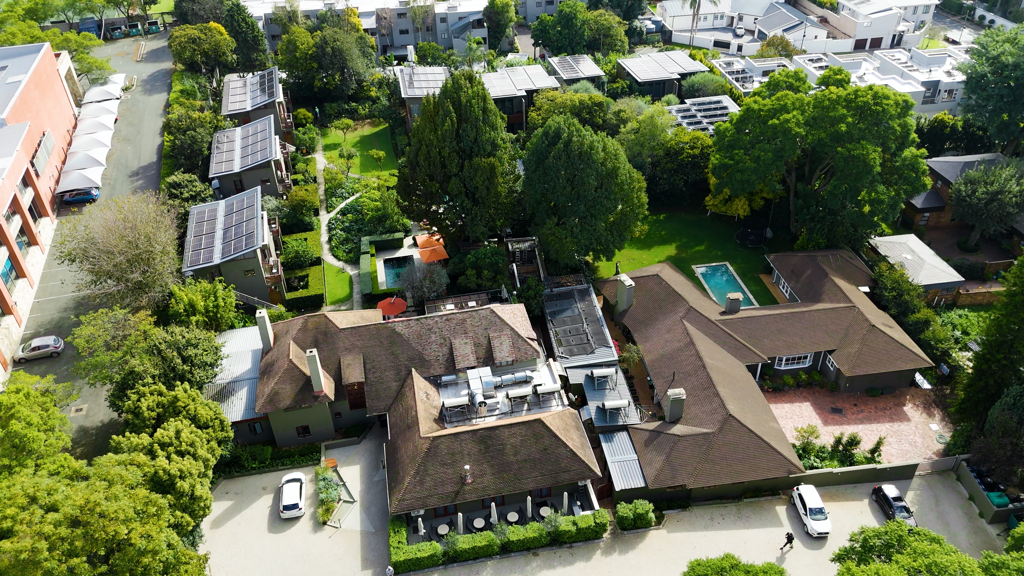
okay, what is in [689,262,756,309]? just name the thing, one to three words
swimming pool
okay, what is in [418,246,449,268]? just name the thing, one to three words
umbrella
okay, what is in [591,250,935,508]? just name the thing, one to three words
house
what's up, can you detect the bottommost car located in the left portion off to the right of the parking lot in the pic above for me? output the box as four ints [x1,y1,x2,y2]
[276,469,307,520]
